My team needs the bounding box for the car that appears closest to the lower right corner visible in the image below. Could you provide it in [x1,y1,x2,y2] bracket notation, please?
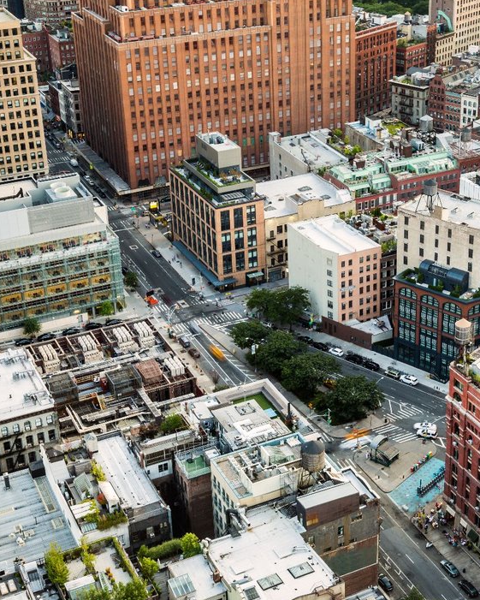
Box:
[458,578,480,597]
